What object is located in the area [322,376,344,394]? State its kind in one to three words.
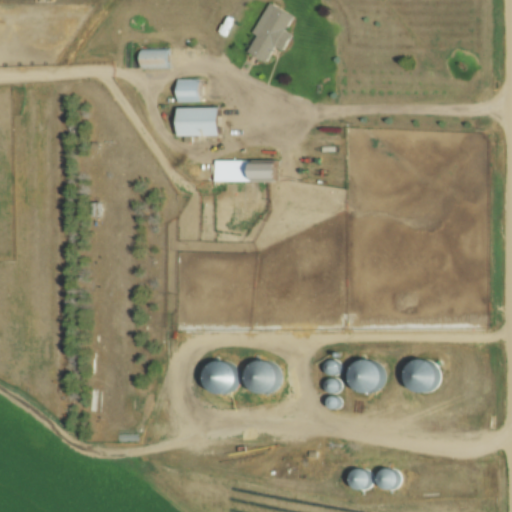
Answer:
silo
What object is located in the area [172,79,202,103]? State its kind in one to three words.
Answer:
shed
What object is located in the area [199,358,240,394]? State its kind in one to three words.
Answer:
silo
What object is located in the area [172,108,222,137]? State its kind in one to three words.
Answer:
shed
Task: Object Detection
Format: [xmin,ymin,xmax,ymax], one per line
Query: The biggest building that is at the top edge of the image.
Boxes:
[248,3,296,64]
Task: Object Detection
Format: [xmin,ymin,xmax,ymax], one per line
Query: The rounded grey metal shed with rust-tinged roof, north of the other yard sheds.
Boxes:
[135,50,170,69]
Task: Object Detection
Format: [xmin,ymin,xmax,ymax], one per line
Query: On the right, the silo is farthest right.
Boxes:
[402,358,443,394]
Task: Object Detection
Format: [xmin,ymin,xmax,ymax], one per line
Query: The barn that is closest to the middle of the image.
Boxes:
[212,160,276,182]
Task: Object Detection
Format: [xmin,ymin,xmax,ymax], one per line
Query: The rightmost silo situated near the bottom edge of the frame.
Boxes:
[376,466,404,490]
